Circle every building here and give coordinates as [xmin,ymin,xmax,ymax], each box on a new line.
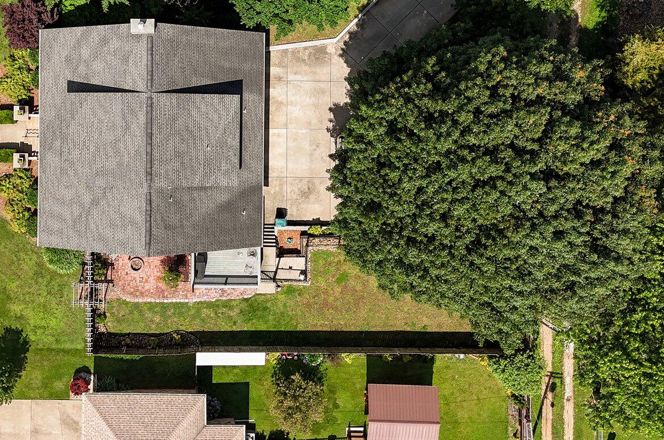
[37,19,266,258]
[363,380,440,440]
[81,385,246,440]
